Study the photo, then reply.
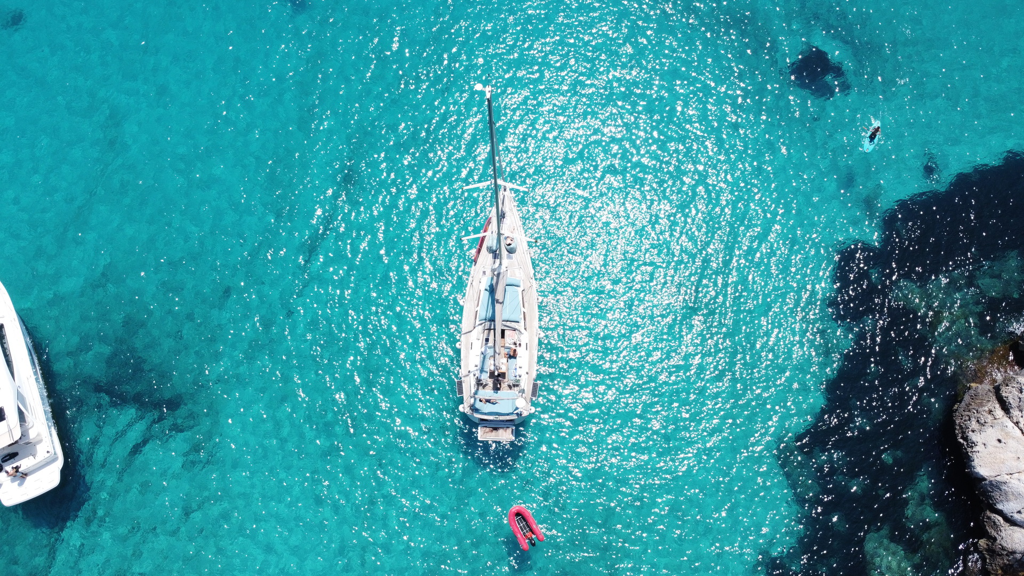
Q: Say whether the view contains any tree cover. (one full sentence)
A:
No, the picture contains no tree cover.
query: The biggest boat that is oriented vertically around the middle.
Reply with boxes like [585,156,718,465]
[456,74,540,442]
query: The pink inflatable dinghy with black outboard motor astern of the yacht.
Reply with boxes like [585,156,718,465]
[509,504,546,551]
